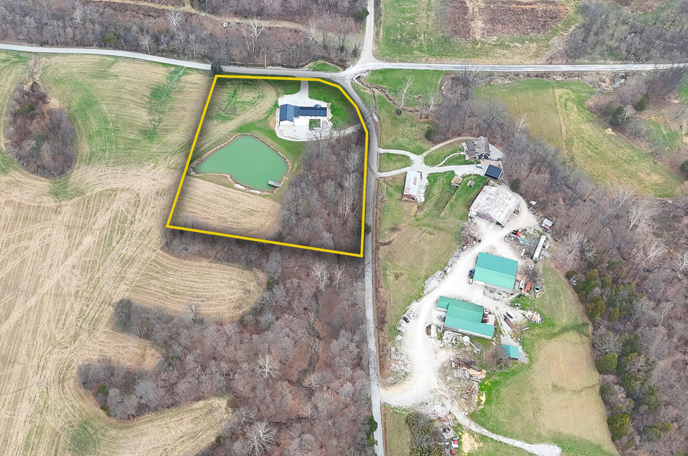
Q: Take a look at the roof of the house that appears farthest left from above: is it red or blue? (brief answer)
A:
blue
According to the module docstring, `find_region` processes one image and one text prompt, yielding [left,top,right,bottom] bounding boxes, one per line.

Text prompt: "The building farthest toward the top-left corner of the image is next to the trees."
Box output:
[279,102,331,129]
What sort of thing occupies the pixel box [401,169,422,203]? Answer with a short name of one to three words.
barn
